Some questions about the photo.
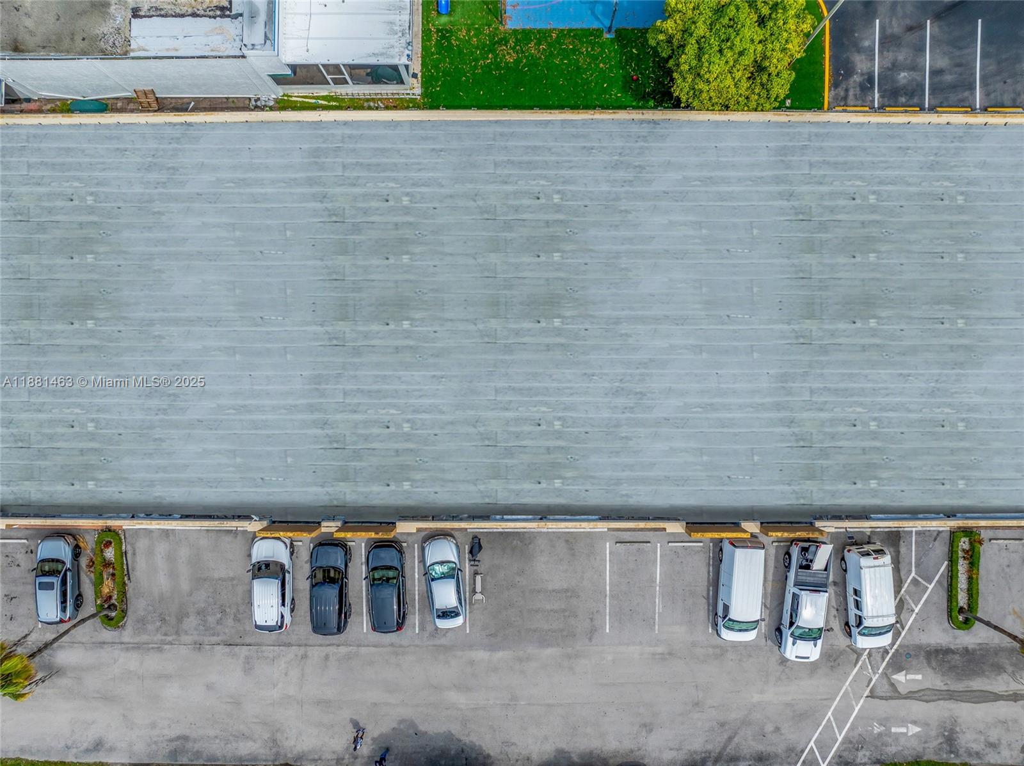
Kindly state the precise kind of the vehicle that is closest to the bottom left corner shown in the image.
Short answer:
car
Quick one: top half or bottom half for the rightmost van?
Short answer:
bottom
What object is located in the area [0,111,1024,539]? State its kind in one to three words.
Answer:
warehouse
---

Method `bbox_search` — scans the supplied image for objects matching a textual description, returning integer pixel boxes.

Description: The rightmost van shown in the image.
[842,540,902,648]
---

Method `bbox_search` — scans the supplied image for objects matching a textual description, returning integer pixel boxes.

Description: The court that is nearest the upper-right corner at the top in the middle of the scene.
[506,0,722,36]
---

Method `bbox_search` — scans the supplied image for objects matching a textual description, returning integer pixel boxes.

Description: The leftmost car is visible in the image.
[28,533,86,625]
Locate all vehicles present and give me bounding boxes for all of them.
[716,539,770,642]
[303,538,352,636]
[28,533,86,625]
[245,539,297,633]
[361,540,407,634]
[842,540,902,648]
[775,539,835,662]
[421,535,467,630]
